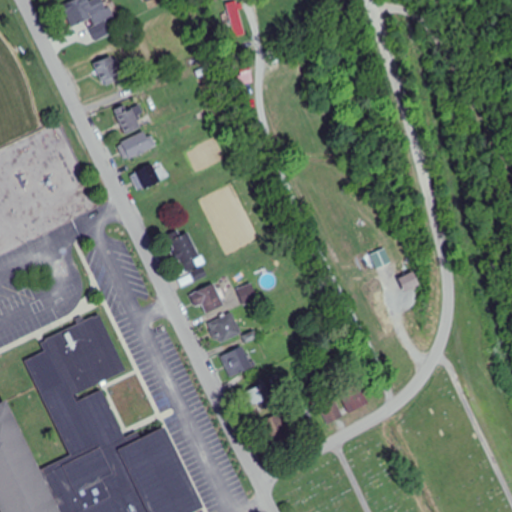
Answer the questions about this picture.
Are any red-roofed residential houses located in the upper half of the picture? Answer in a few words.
Yes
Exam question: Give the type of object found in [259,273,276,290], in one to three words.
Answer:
swimming pool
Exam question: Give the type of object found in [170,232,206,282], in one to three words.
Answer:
house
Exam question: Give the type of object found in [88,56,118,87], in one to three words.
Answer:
house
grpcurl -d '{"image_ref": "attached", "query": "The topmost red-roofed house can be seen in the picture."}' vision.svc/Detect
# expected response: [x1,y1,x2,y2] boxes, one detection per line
[226,1,244,36]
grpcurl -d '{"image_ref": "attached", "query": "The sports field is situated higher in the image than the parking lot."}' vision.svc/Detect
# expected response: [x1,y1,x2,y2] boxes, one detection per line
[0,31,42,146]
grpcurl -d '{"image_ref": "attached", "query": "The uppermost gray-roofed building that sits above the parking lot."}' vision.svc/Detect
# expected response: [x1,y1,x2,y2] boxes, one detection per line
[64,0,116,44]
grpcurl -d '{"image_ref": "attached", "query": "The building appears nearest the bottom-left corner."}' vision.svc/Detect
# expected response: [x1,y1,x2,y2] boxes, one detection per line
[22,315,203,512]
